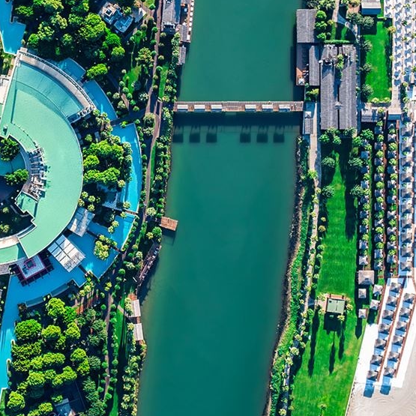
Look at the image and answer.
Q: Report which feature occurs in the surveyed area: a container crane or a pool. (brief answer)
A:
pool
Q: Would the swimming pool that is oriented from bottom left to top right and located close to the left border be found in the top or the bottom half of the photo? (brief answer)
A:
bottom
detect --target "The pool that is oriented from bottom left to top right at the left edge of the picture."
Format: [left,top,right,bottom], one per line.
[0,231,121,402]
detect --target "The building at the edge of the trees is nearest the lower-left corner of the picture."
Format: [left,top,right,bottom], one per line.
[49,381,83,416]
